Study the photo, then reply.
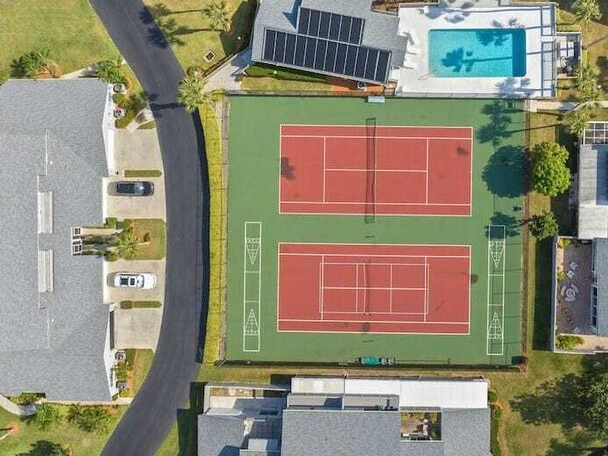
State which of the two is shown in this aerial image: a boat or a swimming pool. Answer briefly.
swimming pool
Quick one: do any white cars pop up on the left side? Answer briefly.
Yes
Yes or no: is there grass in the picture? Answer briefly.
Yes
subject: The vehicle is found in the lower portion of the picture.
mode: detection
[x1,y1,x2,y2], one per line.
[113,272,155,291]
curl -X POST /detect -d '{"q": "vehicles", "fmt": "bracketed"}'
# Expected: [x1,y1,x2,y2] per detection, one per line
[113,272,155,291]
[111,179,151,198]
